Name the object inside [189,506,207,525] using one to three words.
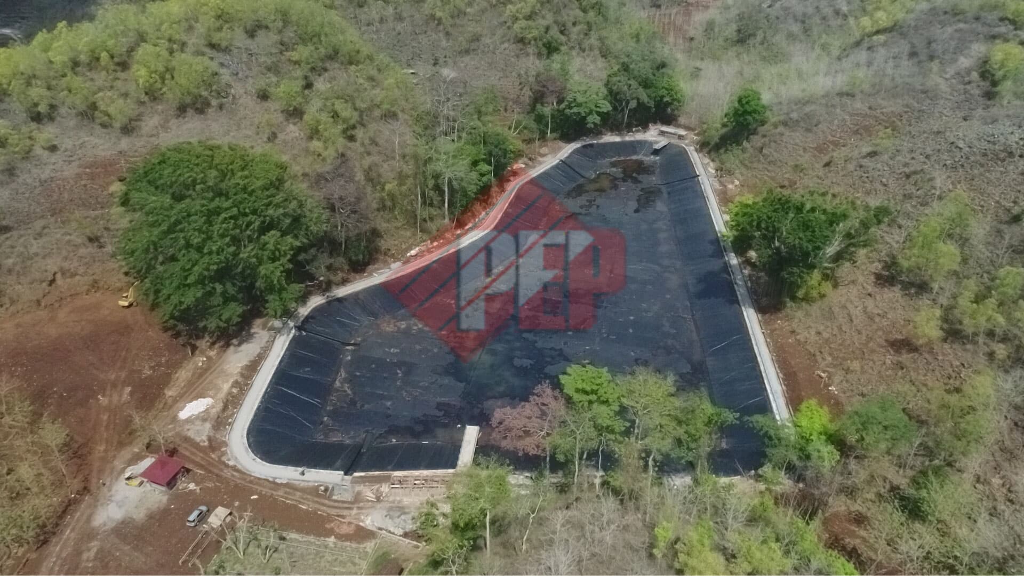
car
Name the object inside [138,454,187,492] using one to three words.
shed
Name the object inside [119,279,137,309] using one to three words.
work vehicle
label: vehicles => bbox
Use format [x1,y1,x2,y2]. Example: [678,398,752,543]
[119,279,137,309]
[189,506,207,525]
